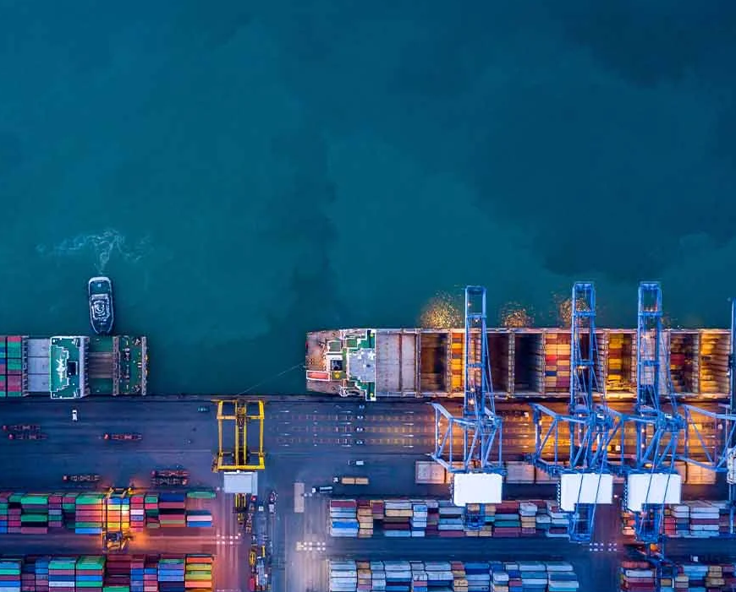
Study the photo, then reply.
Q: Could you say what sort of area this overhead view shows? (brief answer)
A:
port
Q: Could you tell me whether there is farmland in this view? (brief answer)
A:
No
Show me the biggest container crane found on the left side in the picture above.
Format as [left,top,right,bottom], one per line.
[213,401,267,520]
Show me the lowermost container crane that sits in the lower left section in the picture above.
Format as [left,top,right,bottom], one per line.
[102,484,135,553]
